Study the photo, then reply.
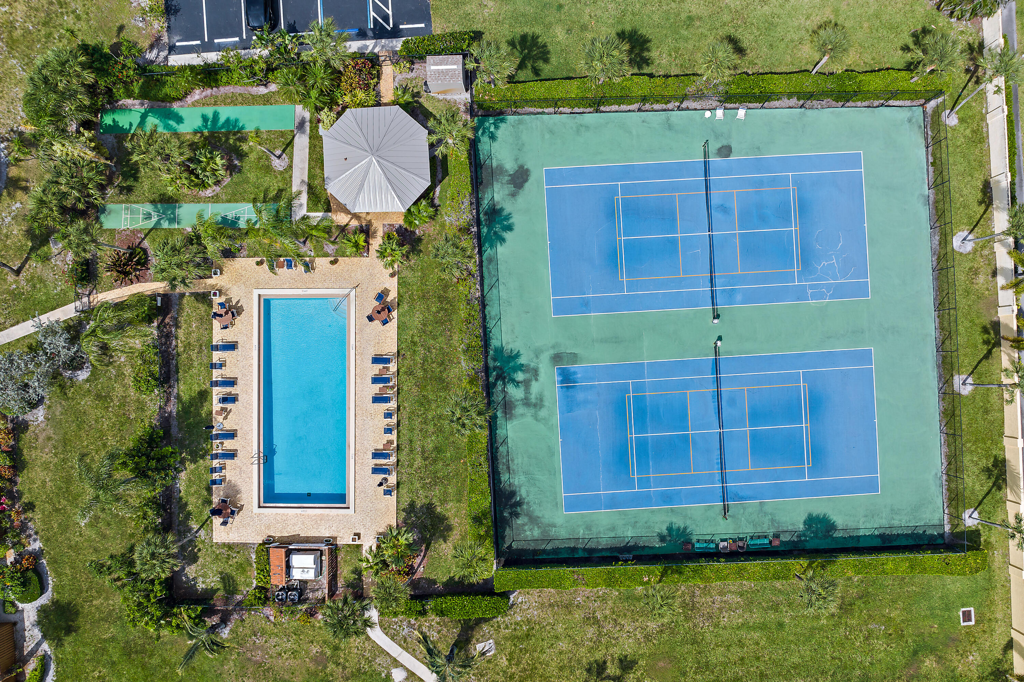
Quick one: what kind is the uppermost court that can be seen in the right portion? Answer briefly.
tennis court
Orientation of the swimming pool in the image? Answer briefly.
vertically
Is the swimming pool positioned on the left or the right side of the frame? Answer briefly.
left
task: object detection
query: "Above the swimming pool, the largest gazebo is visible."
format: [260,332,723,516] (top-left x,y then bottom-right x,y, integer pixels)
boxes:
[321,105,431,213]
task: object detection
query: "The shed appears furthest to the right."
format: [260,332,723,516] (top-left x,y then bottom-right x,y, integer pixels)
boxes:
[426,55,464,92]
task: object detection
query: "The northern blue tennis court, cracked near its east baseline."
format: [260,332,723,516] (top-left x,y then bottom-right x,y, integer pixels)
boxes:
[543,151,871,317]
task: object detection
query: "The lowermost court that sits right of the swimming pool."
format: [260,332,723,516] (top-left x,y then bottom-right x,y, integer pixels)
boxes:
[555,347,881,514]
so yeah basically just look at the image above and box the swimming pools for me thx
[252,288,355,514]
